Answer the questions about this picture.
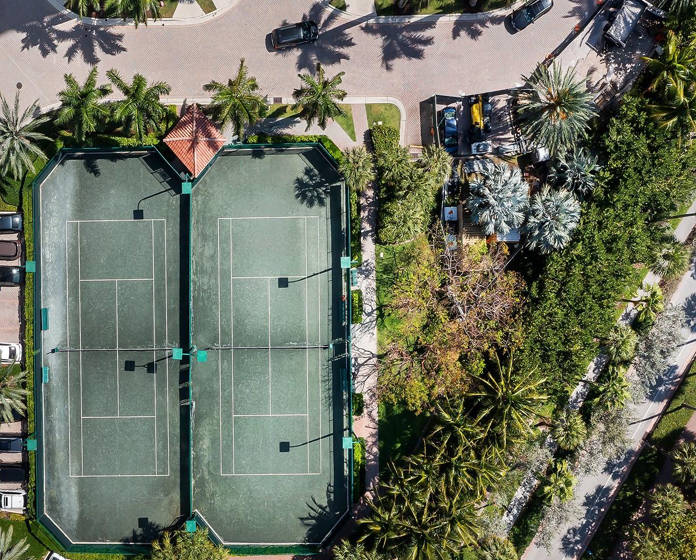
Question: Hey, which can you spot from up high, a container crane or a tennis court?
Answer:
tennis court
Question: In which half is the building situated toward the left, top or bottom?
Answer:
top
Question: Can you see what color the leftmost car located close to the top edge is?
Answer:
black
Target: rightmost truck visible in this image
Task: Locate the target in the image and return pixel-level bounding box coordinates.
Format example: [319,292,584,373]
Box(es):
[599,0,655,54]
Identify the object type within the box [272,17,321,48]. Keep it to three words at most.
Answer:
car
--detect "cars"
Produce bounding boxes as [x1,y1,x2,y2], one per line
[442,105,462,153]
[272,17,321,48]
[0,213,22,233]
[0,406,22,426]
[0,342,21,362]
[0,433,24,455]
[0,239,20,259]
[0,461,25,485]
[0,489,26,512]
[0,266,24,287]
[509,0,559,29]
